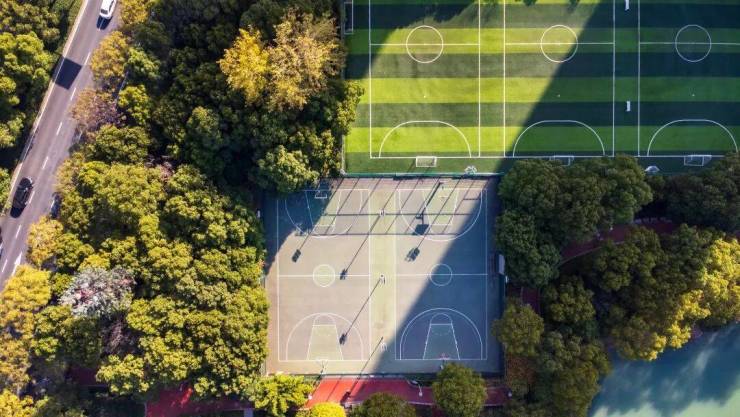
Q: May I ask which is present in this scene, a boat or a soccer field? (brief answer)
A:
soccer field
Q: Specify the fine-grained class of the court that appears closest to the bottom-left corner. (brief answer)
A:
basketball court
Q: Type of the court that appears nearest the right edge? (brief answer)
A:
basketball court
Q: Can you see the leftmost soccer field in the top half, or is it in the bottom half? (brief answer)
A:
top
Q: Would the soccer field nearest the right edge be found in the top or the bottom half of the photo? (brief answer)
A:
top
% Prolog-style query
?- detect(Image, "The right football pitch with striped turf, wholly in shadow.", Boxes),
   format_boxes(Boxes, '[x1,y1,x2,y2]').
[627,0,740,173]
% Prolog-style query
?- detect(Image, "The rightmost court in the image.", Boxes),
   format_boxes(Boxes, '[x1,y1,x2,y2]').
[396,189,487,359]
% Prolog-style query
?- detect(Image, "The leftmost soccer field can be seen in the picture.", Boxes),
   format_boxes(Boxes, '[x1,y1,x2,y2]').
[345,0,492,174]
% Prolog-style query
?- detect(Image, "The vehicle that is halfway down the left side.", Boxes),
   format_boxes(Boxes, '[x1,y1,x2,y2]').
[12,177,35,207]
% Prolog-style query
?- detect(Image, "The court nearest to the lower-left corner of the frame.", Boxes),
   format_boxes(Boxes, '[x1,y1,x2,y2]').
[278,189,370,361]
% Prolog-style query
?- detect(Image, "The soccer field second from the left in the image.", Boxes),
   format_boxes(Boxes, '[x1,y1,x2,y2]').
[492,0,627,174]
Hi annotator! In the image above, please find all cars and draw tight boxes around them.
[12,177,35,207]
[101,0,119,20]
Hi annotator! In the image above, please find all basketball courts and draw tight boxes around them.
[396,189,487,359]
[278,189,370,361]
